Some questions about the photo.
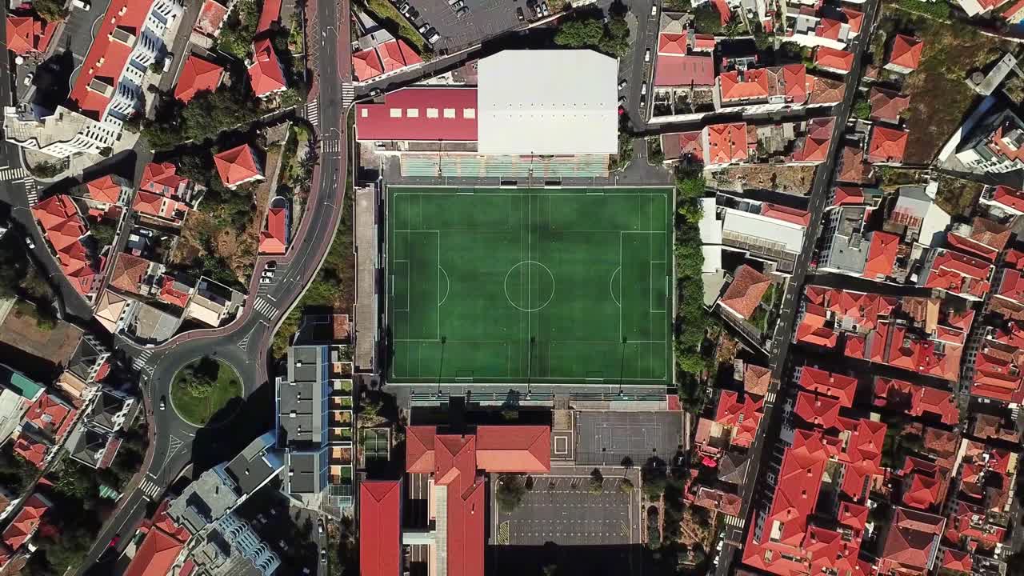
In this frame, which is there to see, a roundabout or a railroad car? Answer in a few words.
roundabout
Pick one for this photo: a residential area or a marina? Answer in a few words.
residential area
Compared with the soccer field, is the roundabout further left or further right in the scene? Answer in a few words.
on the left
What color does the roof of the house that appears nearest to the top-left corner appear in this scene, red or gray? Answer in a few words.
red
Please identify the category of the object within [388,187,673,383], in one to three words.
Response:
soccer field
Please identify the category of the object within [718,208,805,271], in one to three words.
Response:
building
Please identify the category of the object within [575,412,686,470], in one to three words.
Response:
sports court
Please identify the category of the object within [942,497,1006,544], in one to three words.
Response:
house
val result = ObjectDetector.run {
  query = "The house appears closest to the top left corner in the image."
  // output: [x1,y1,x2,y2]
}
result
[6,17,64,54]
